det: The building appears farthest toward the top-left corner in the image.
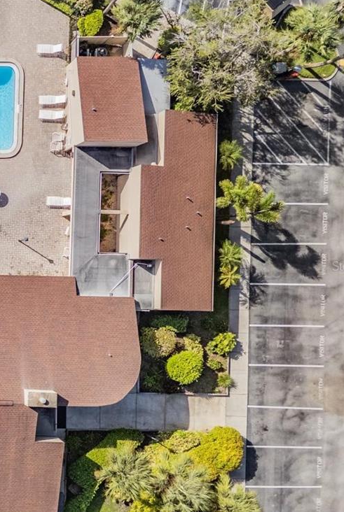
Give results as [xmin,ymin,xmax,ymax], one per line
[64,57,148,151]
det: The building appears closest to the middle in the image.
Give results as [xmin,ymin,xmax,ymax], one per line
[114,109,219,312]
